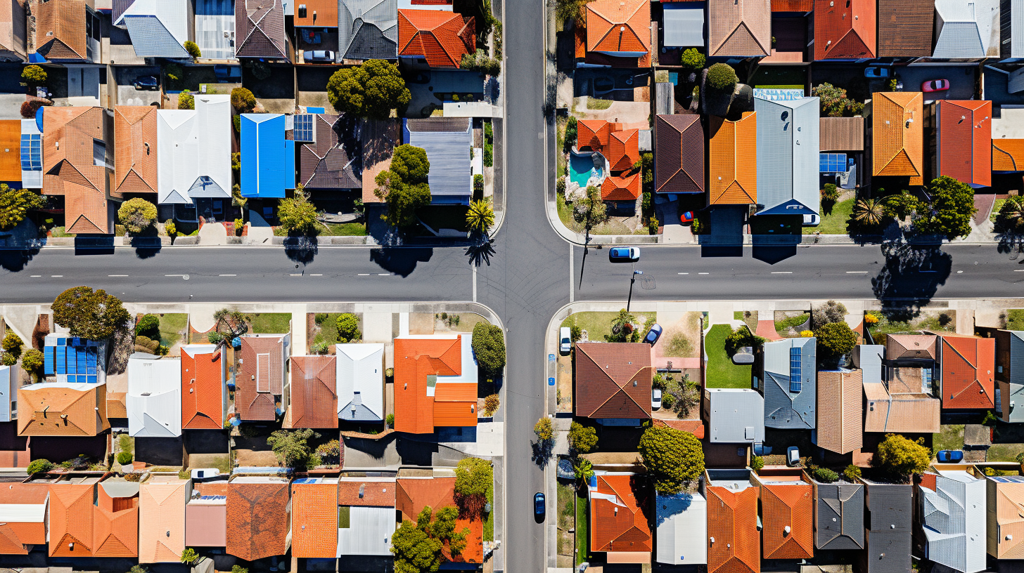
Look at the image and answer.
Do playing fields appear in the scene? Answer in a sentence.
No, I can see no playing field in this picture.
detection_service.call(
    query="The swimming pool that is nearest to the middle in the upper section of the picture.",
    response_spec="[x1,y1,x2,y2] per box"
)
[565,146,611,204]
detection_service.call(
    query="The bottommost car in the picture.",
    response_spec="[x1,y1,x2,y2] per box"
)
[532,491,547,521]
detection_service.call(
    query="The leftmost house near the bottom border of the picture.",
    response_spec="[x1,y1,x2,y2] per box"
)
[0,479,61,556]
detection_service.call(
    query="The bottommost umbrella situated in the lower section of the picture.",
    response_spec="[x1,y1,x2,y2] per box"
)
[557,460,575,478]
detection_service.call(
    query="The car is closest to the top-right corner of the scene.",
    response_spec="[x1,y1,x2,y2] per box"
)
[919,76,948,93]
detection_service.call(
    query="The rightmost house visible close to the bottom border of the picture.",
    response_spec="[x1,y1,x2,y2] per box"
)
[987,484,1024,561]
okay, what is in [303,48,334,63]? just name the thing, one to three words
car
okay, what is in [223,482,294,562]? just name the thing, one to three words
house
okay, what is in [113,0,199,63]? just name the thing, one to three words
house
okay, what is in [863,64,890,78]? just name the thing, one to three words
car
